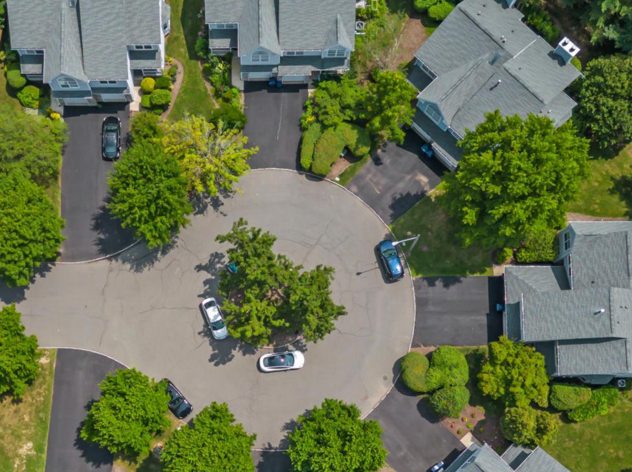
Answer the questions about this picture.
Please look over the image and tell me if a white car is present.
Yes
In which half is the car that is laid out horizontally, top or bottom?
bottom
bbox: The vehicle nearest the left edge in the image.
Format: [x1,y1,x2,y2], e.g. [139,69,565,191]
[101,117,120,159]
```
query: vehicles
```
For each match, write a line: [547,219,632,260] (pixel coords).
[101,117,120,159]
[377,241,405,281]
[160,377,196,419]
[200,296,227,340]
[259,351,305,372]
